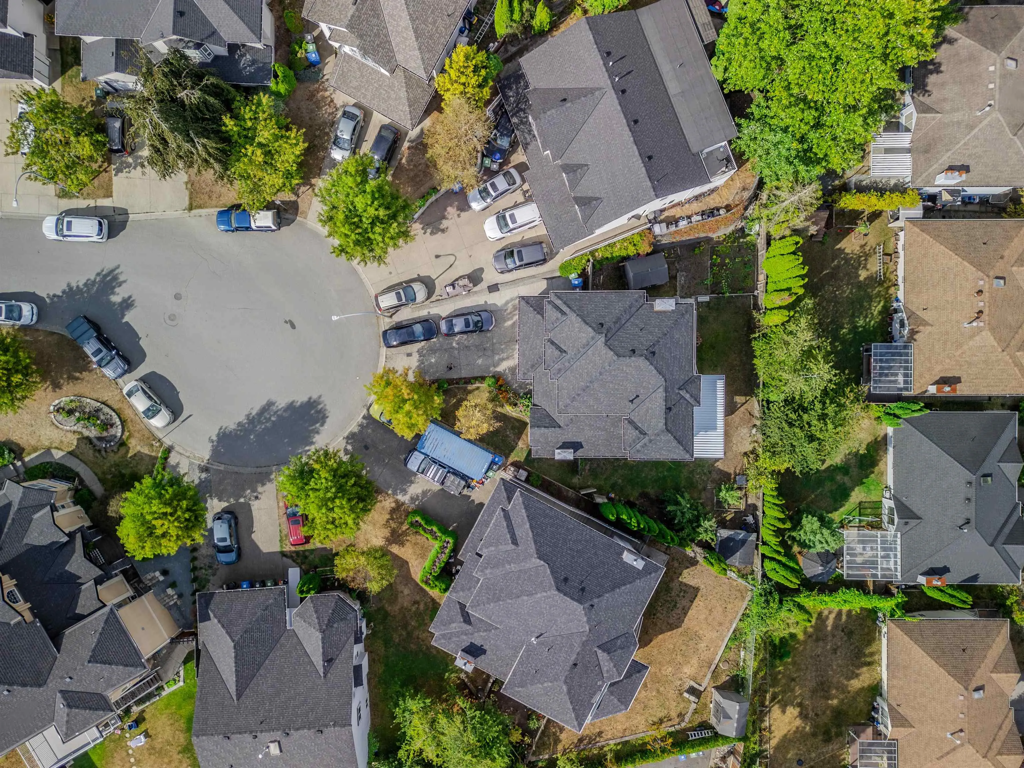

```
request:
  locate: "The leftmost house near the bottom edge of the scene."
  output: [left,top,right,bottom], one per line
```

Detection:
[0,474,153,756]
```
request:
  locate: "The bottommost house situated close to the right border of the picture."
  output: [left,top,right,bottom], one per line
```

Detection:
[874,616,1024,768]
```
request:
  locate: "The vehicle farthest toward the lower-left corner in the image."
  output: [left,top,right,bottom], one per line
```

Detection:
[209,509,241,563]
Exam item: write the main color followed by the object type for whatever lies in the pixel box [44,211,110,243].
white car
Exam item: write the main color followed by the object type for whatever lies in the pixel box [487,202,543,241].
white car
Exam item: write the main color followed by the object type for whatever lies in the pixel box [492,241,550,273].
gray car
